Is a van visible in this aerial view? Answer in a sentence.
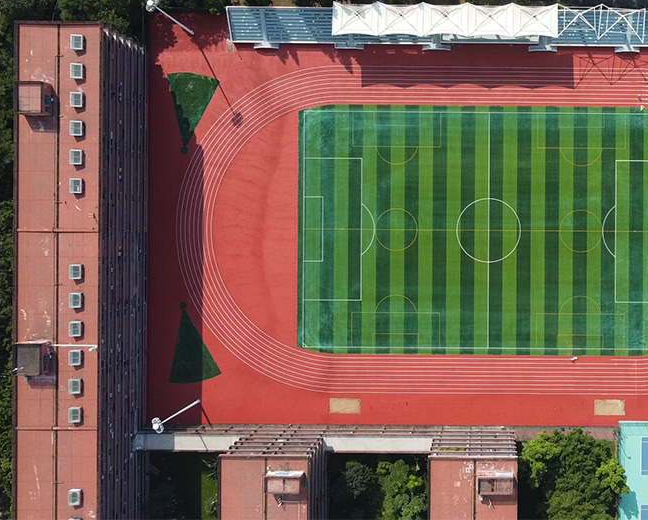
No, the frame has no van in it.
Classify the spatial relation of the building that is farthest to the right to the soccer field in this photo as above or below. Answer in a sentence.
Relative to the soccer field, the building that is farthest to the right lies below it.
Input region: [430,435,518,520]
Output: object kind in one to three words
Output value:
building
